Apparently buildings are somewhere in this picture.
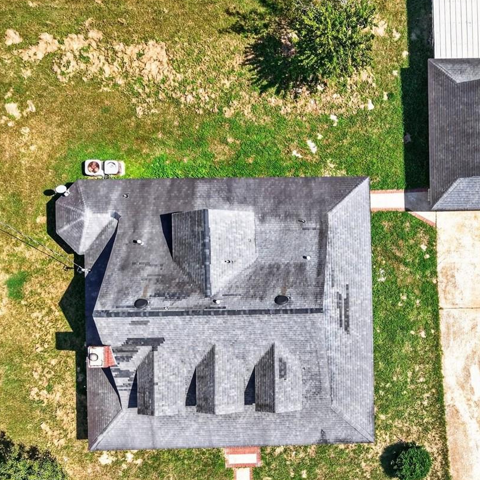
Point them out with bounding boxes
[428,57,480,211]
[55,176,375,451]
